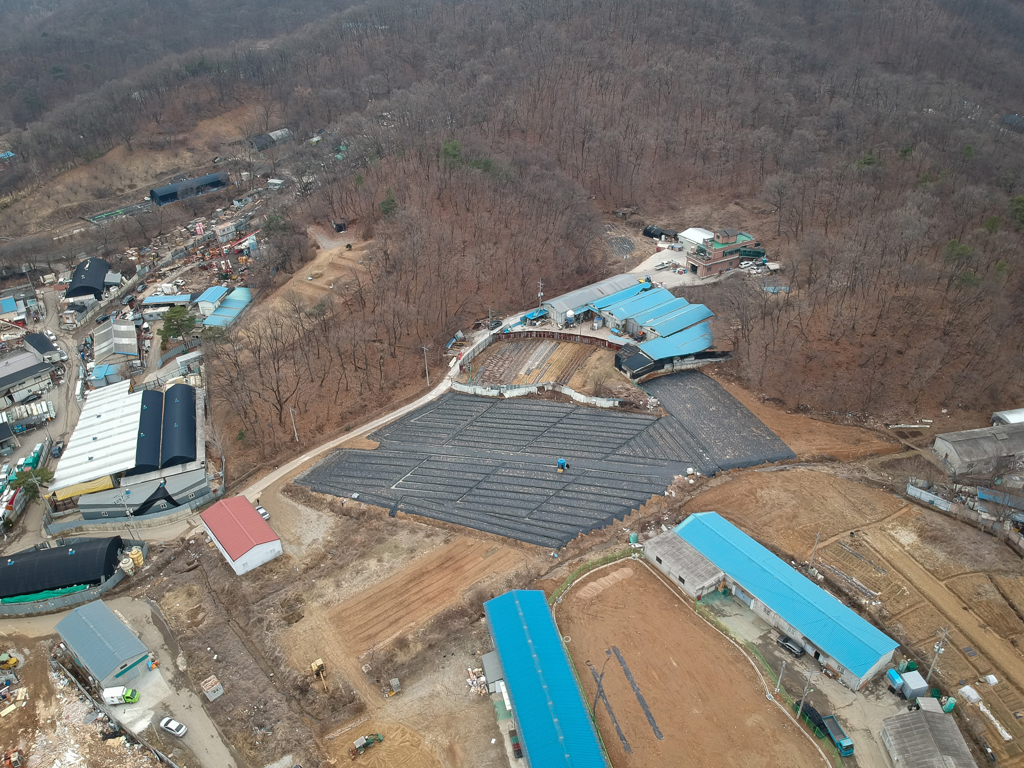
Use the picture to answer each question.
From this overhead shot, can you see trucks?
Yes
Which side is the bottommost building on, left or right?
right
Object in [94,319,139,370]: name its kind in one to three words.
shed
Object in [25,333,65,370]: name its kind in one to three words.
house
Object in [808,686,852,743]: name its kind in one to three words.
truck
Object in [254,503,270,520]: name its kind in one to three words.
car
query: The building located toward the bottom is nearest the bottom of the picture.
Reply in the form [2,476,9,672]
[879,708,983,768]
